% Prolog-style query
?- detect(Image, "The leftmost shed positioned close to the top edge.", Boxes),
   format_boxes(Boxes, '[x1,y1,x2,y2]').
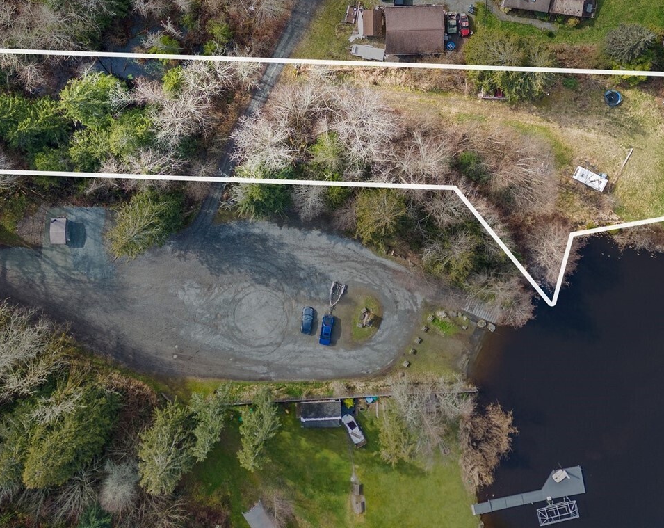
[363,10,385,37]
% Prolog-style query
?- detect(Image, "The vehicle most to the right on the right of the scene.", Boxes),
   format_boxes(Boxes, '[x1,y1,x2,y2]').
[569,166,606,192]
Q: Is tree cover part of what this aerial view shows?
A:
Yes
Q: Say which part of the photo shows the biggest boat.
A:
bottom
